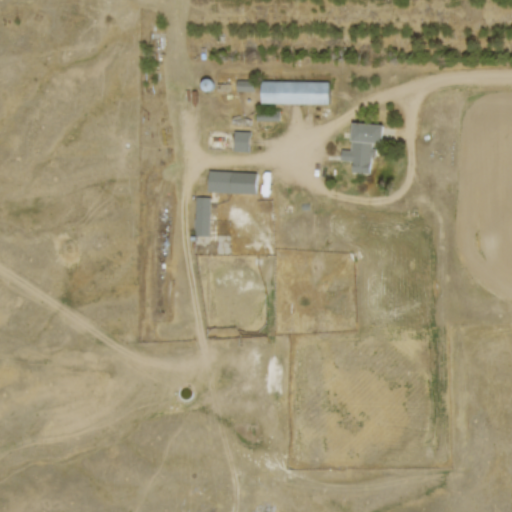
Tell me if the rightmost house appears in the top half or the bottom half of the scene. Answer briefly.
top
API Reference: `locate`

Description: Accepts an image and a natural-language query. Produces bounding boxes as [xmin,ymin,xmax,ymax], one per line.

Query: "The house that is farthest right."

[341,124,384,173]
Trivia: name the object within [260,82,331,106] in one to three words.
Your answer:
barn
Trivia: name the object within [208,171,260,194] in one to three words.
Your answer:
building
